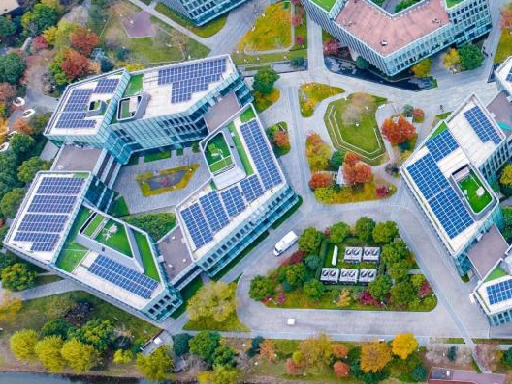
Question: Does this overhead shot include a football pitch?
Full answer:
No, no football pitch is visible in the view.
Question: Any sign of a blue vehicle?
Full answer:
No, this view has no blue vehicle in it.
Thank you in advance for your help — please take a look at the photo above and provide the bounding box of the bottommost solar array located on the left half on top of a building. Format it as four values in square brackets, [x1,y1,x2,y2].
[89,254,161,299]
